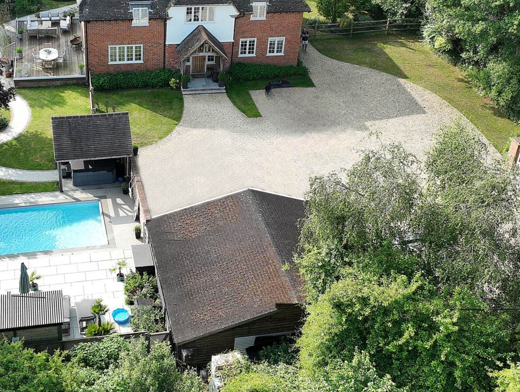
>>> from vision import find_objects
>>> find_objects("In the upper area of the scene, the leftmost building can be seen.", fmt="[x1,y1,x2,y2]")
[49,110,134,191]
